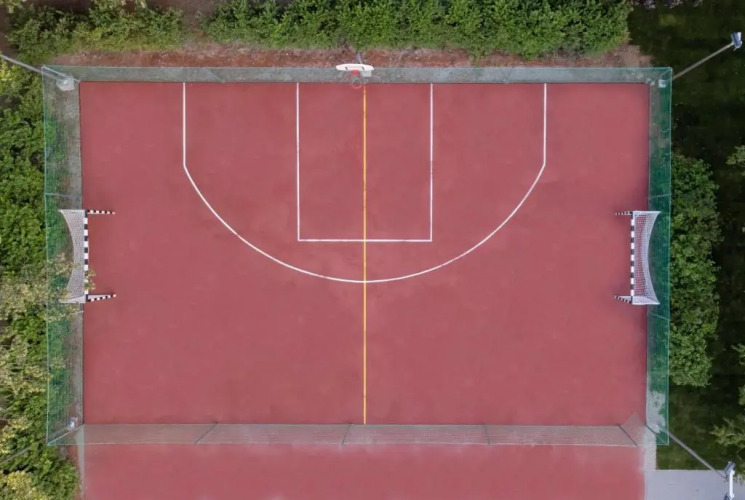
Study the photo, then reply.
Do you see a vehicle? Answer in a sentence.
No, the picture doesn't show any vehicle.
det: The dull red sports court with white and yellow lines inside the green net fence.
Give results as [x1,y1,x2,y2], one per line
[80,82,649,500]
